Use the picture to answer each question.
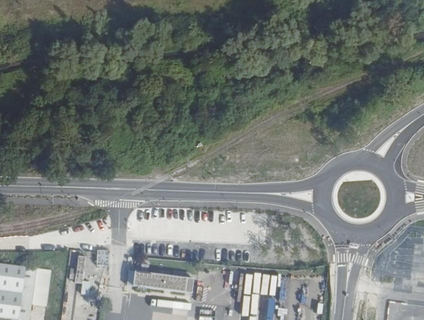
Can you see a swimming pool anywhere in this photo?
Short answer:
No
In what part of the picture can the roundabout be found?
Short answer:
right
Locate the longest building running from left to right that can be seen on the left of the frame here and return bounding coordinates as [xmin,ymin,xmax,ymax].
[134,272,193,293]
